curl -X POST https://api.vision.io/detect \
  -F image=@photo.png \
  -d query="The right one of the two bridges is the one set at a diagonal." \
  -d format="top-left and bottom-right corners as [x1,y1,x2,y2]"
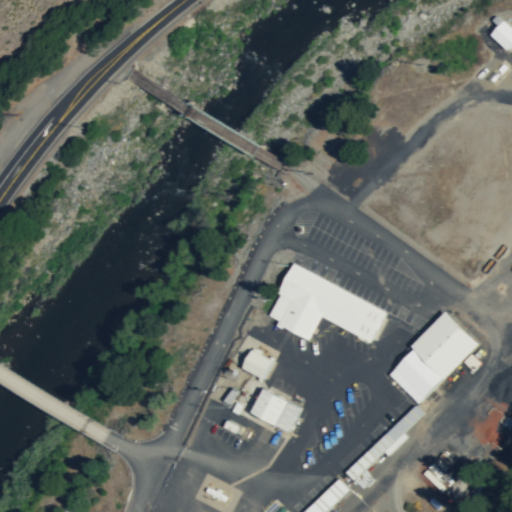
[129,68,284,173]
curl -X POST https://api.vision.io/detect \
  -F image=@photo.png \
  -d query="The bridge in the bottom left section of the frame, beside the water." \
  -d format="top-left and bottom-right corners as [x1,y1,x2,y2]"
[0,364,116,446]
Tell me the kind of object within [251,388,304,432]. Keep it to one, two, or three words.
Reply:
building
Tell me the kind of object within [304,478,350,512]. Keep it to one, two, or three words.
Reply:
shed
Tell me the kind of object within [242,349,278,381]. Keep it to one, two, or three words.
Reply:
building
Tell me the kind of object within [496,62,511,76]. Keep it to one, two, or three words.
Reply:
vehicle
